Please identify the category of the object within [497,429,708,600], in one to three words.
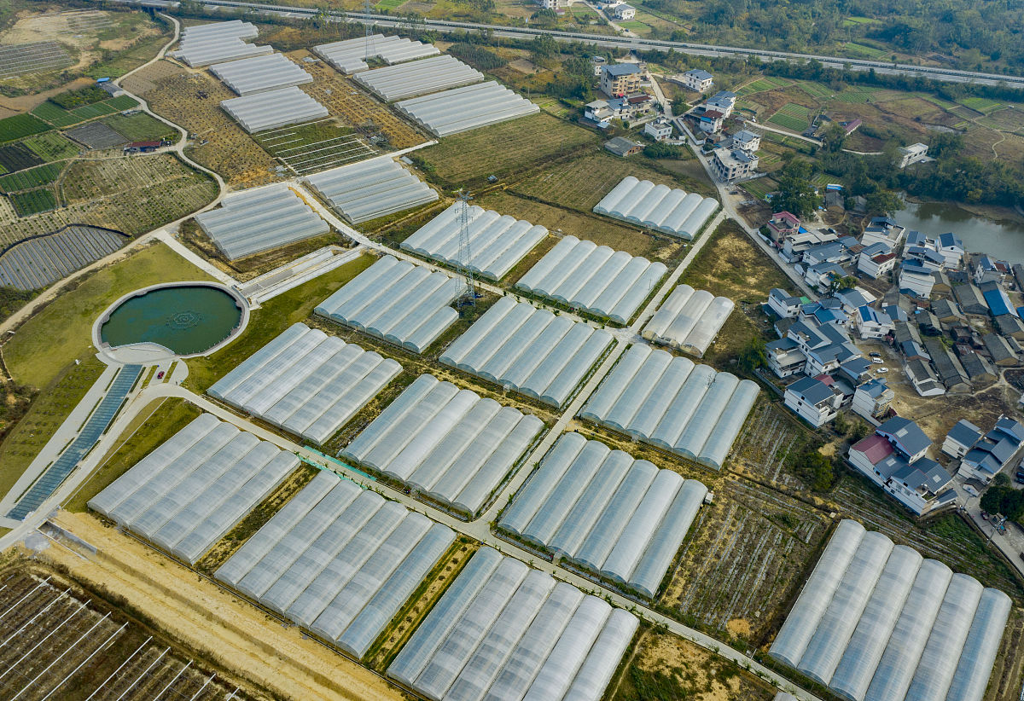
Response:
greenhouse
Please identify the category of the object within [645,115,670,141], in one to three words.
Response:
house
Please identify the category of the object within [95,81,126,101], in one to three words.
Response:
shed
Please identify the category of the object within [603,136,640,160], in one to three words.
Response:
barn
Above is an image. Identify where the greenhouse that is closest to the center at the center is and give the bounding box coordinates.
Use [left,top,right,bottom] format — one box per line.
[437,295,615,408]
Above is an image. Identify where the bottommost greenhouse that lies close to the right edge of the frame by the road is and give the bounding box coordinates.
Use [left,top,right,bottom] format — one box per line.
[768,518,1013,701]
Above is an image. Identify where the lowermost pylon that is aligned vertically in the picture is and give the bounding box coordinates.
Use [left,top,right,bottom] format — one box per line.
[445,183,479,300]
